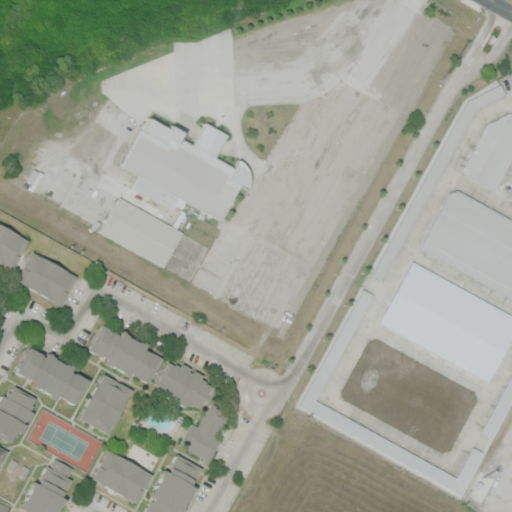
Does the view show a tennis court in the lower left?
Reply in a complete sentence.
Yes, a tennis court can be seen in the lower left.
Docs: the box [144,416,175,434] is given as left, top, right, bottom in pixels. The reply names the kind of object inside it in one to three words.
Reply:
swimming pool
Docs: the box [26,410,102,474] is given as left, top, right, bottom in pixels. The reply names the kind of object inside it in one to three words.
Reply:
tennis court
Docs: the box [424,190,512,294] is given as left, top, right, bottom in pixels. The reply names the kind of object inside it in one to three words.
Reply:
building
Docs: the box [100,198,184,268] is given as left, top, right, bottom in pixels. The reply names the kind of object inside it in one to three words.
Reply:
hangar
